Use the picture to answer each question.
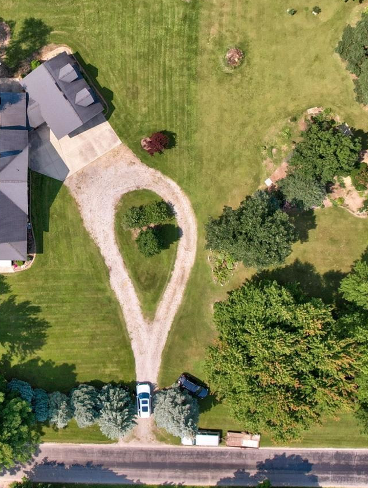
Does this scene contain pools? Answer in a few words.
No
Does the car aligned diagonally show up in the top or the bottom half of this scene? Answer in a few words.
bottom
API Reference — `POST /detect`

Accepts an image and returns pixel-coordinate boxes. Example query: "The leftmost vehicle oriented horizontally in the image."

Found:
[179,428,222,447]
